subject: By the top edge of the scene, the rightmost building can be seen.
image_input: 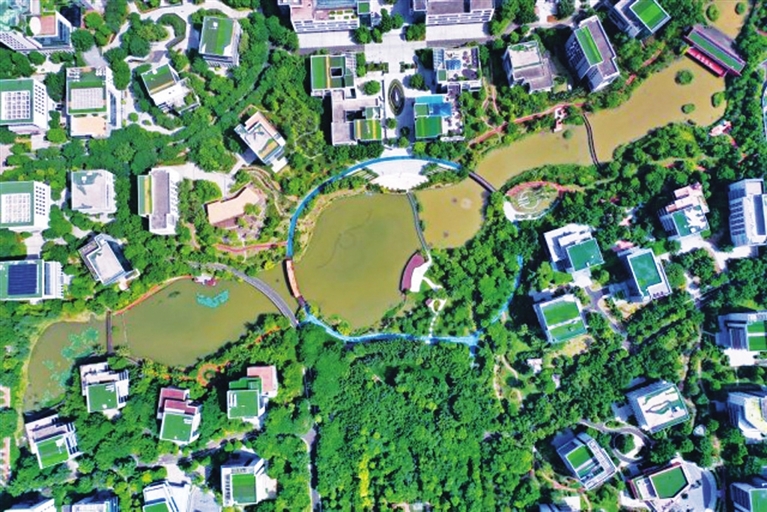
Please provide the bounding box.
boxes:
[592,0,671,44]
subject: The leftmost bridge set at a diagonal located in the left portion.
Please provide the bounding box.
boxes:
[213,263,300,329]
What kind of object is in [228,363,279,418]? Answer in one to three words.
house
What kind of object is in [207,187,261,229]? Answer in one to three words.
building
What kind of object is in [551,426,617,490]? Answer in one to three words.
building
